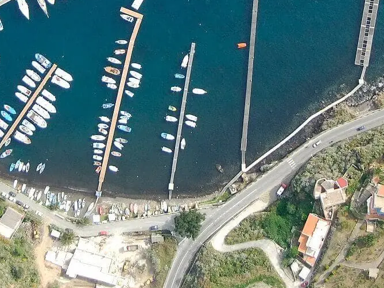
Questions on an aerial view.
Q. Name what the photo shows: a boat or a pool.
boat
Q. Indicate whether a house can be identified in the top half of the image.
No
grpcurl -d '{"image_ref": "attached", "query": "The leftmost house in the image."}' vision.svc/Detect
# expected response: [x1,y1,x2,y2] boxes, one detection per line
[0,205,26,238]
